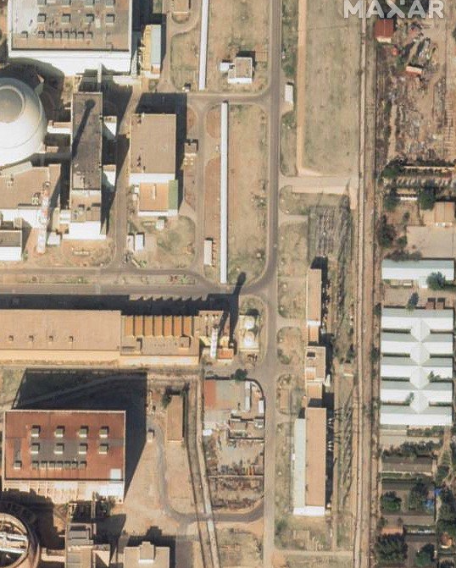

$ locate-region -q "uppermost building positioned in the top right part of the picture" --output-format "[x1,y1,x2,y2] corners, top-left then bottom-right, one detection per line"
[375,19,394,40]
